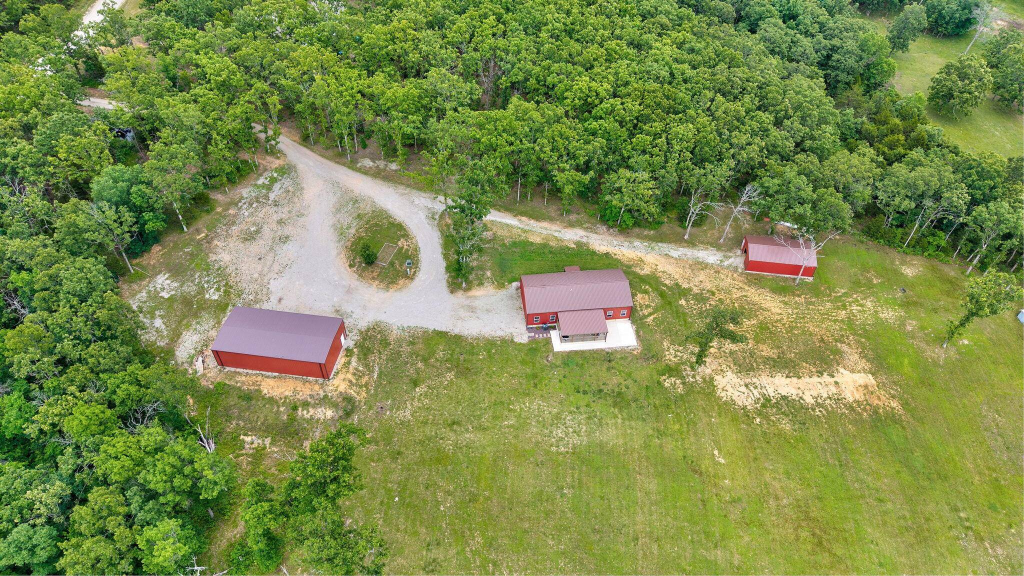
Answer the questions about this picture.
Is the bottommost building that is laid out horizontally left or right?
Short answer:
left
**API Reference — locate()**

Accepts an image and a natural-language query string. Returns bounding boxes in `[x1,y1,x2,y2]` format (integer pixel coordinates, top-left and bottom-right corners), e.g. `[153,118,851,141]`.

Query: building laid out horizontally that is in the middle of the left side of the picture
[210,307,348,379]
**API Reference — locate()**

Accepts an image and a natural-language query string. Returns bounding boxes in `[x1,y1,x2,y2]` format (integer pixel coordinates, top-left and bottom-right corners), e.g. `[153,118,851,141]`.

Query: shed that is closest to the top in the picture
[743,236,818,278]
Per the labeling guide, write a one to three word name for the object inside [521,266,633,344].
house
